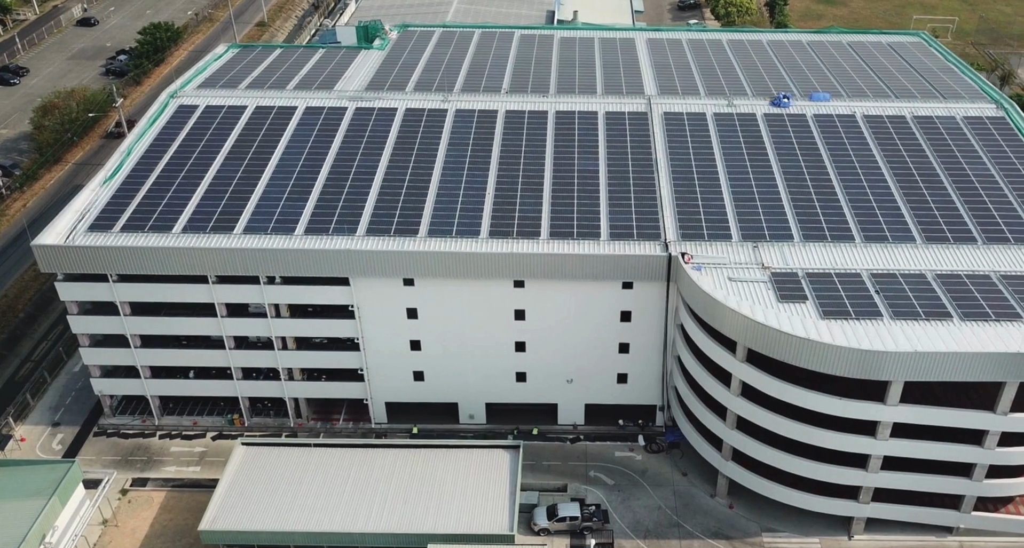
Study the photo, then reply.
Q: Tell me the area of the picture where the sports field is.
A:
top right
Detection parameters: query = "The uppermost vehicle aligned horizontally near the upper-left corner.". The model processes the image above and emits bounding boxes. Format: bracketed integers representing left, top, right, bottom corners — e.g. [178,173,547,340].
[71,13,100,26]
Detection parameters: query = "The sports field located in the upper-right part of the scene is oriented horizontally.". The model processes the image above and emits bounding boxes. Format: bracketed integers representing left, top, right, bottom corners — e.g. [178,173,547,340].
[731,0,1024,75]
